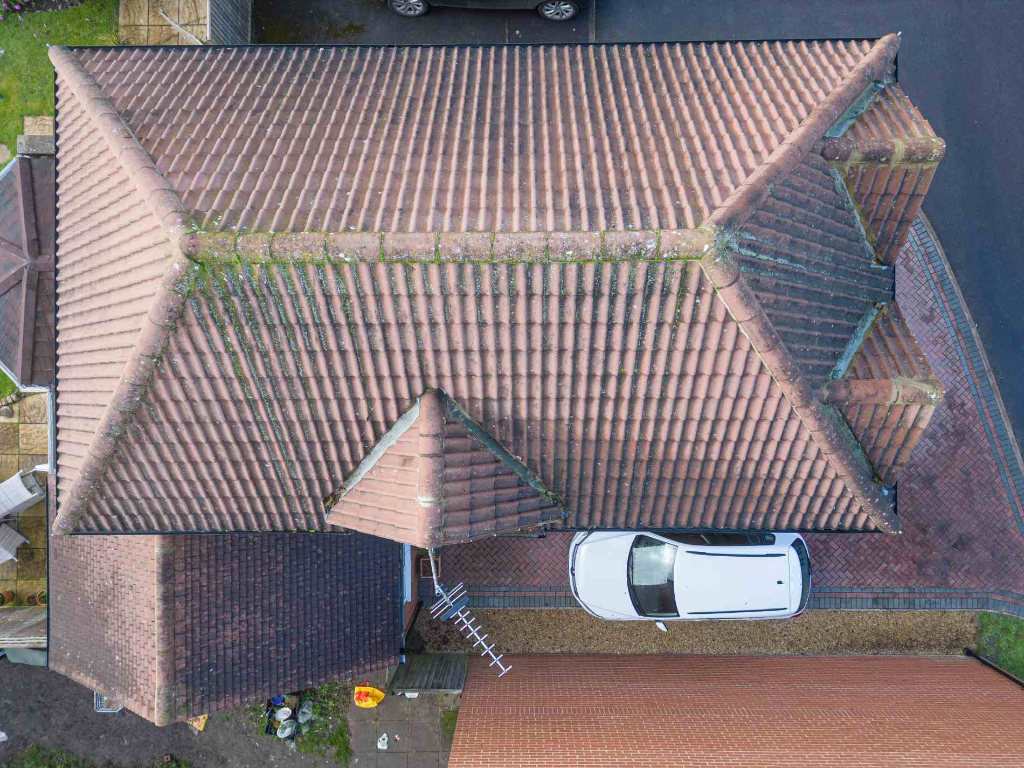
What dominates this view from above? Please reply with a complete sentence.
What you mostly see from above here is buildings.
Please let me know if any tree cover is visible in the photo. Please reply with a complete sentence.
No, the scene doesn't show any tree cover.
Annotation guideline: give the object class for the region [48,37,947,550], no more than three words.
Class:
house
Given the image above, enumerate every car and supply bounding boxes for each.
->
[568,525,811,634]
[385,0,598,18]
